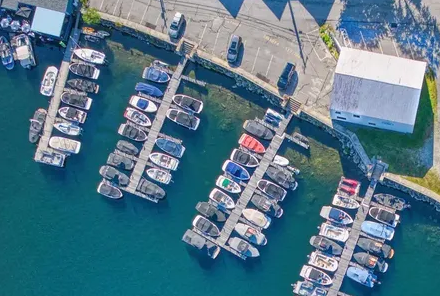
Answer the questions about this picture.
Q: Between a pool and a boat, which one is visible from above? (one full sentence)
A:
Of the two, only a boat appears.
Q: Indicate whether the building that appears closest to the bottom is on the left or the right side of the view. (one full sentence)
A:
You can find the building that appears closest to the bottom on the right side of the picture.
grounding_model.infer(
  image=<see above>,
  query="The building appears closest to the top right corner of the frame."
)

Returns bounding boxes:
[331,47,427,131]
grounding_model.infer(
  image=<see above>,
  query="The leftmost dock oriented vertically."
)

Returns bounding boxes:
[36,9,97,159]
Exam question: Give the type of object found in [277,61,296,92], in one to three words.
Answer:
vehicle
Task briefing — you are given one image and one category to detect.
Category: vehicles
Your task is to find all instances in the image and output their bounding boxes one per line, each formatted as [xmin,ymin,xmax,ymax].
[277,61,296,92]
[169,11,185,41]
[227,34,242,65]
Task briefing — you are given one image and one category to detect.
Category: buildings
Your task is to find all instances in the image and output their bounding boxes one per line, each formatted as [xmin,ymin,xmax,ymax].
[0,0,83,44]
[331,47,427,131]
